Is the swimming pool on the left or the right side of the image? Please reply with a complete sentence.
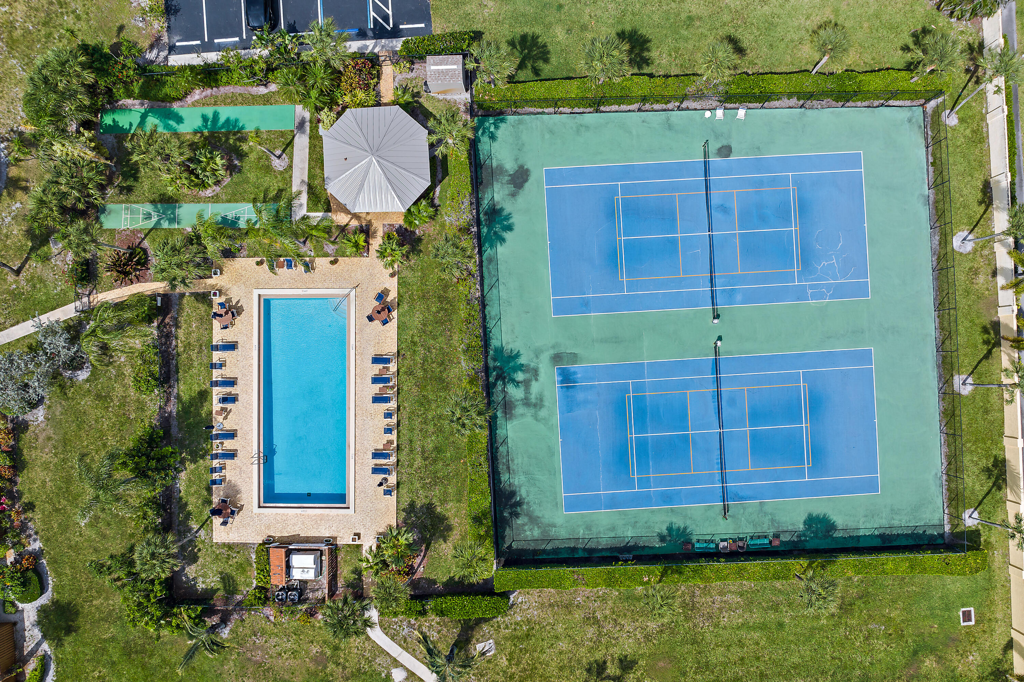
It is on the left.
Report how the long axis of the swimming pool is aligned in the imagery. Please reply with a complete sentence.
In this picture, the swimming pool is oriented from top to bottom.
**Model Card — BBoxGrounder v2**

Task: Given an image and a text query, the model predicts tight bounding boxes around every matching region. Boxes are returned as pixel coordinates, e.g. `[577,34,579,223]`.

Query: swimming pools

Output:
[252,288,355,514]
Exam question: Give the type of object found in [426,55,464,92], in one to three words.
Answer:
shed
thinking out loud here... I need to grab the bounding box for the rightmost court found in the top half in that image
[543,151,871,317]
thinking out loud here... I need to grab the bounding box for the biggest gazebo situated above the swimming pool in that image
[321,105,431,213]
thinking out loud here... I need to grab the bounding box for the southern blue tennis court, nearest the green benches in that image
[555,347,881,514]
